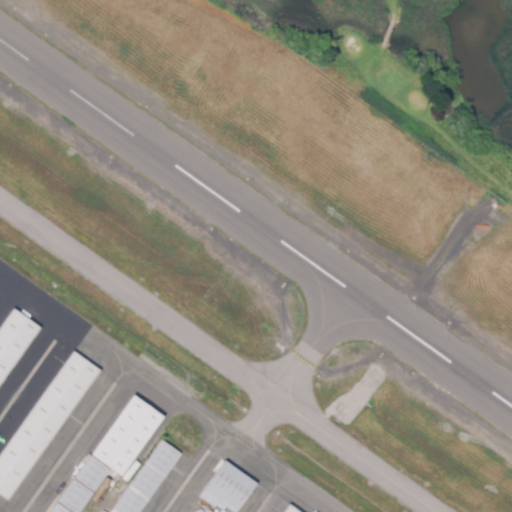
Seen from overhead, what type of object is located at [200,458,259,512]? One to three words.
hangar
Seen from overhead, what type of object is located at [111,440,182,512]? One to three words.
hangar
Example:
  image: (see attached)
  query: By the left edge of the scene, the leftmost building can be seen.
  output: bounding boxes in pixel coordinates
[0,308,42,386]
